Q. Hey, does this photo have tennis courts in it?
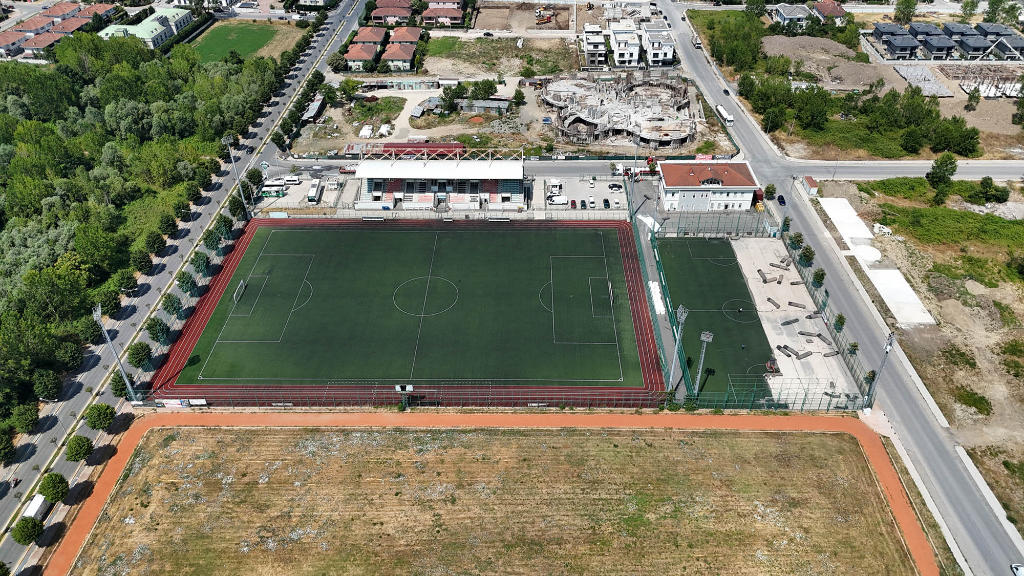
No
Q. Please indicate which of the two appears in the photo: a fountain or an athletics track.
athletics track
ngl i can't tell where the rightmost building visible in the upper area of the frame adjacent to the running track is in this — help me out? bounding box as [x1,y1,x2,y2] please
[653,156,762,210]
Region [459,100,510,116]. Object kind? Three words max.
shed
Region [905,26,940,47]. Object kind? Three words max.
house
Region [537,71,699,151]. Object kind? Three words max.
building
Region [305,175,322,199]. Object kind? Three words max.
vehicle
